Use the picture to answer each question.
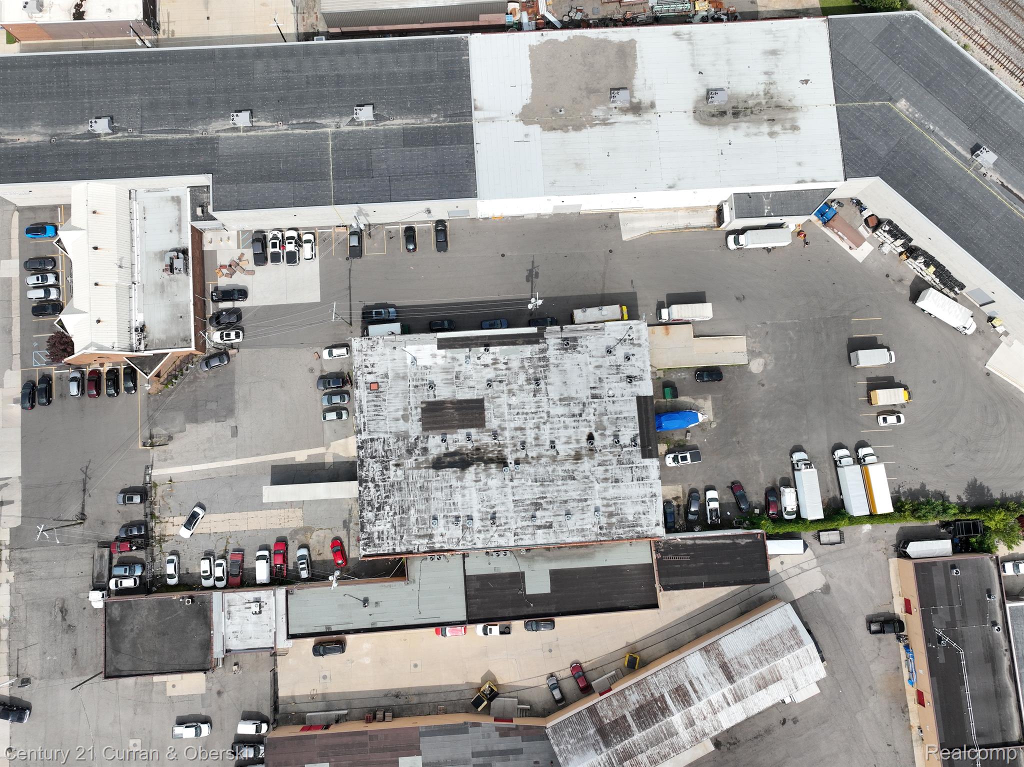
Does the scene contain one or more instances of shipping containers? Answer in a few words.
Yes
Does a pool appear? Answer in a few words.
No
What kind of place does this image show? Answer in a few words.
industrial area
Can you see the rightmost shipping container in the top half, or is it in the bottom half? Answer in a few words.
top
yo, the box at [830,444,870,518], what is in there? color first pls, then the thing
white truck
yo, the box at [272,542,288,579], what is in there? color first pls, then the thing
red vehicle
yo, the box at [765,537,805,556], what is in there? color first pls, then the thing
white trailer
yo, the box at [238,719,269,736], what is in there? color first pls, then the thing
white car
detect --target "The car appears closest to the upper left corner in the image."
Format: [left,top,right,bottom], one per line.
[28,225,56,238]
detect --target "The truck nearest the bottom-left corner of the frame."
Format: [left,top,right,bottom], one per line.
[0,704,35,725]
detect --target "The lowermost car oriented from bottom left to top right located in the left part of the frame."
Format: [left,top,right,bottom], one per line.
[181,507,205,536]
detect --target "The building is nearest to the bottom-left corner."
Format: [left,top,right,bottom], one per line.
[102,586,226,680]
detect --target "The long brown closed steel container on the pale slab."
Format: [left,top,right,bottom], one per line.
[821,216,863,252]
